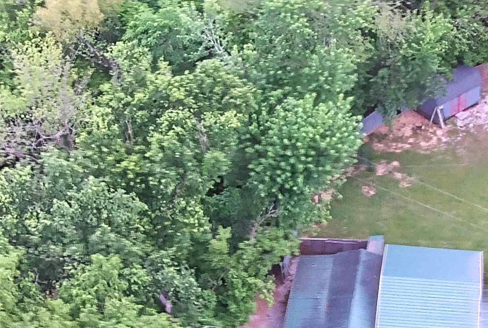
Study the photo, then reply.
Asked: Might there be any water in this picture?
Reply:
No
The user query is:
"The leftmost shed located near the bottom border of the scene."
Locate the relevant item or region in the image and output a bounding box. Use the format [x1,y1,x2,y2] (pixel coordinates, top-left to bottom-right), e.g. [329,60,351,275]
[285,248,382,328]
